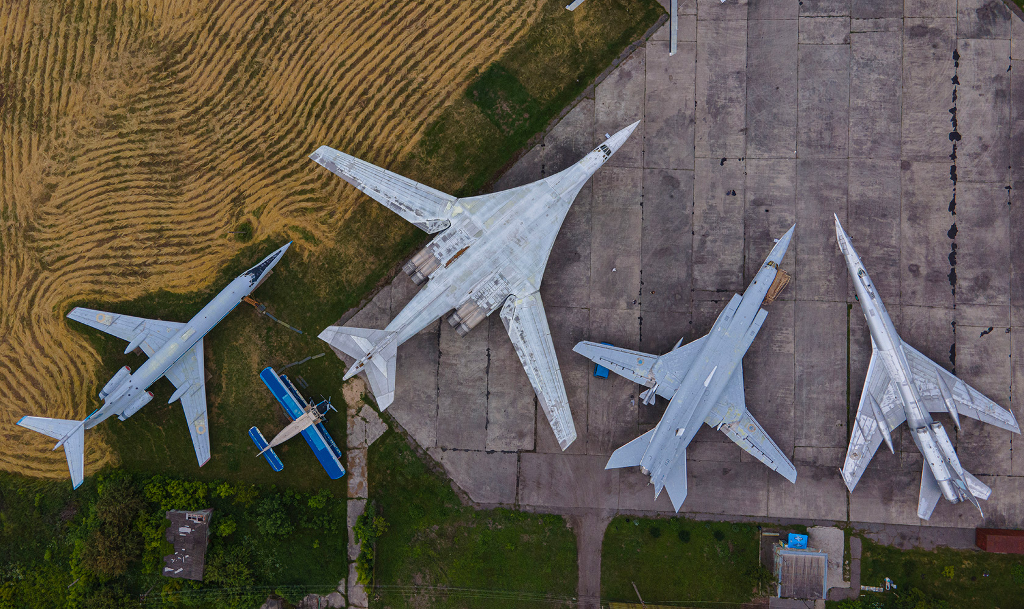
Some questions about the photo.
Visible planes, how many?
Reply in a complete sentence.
The number of planes here is 5.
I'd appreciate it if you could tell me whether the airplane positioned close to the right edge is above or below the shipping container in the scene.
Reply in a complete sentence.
The airplane positioned close to the right edge is above the shipping container.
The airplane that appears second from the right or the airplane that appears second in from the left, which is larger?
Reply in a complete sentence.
The airplane that appears second in from the left is smaller than the airplane that appears second from the right.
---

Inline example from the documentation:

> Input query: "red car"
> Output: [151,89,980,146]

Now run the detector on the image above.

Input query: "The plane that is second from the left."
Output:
[249,366,345,479]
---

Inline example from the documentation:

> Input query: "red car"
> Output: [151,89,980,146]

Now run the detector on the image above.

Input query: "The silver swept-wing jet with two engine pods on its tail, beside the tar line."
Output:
[834,213,1021,524]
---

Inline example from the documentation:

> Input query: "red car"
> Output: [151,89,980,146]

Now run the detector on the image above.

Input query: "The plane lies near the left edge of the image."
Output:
[17,241,292,490]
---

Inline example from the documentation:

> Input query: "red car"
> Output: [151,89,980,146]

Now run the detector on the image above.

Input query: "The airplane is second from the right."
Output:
[572,223,797,513]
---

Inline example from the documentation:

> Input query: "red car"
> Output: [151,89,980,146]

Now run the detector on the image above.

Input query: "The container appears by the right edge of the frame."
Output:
[975,529,1024,555]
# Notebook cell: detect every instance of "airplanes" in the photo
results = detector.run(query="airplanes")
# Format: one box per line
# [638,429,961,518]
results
[572,223,797,513]
[249,366,345,479]
[17,241,292,490]
[309,120,640,451]
[834,213,1021,524]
